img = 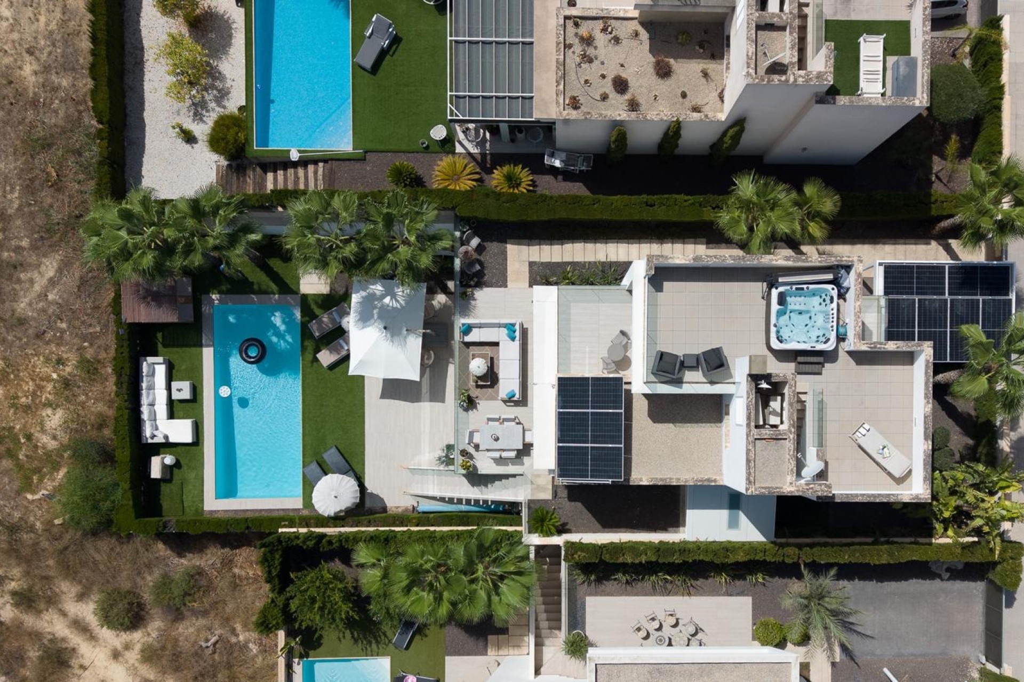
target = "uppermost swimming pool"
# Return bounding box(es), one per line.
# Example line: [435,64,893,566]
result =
[254,0,352,149]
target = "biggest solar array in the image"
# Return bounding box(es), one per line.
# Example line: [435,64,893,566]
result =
[557,376,623,484]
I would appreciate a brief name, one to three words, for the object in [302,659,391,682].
swimming pool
